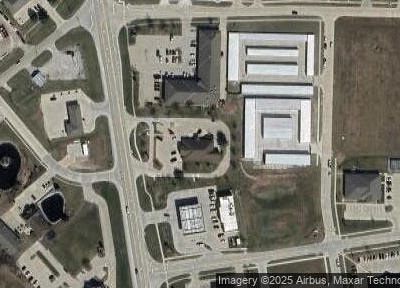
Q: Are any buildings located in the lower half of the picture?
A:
Yes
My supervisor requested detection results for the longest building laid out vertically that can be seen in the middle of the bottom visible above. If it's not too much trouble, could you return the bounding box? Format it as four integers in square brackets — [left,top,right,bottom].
[218,194,239,232]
